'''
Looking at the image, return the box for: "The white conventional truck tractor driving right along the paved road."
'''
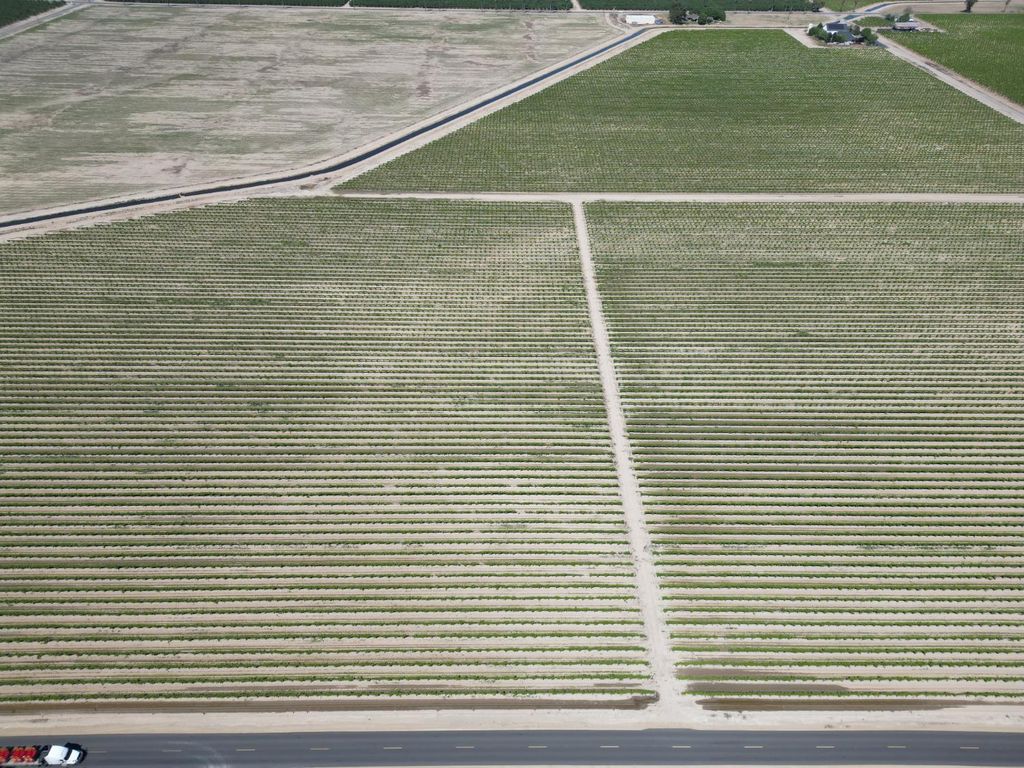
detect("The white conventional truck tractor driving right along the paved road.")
[33,745,87,766]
